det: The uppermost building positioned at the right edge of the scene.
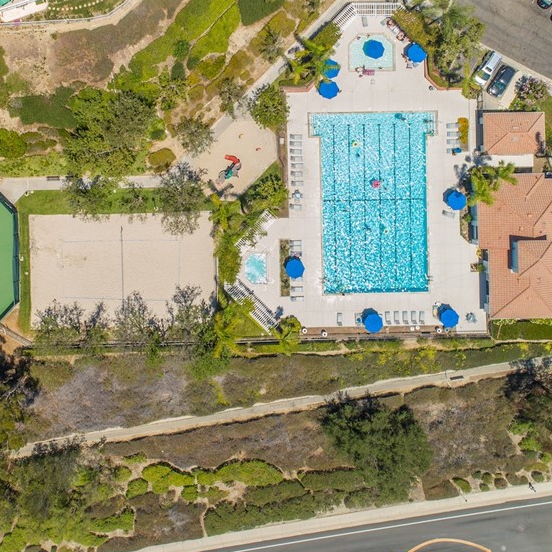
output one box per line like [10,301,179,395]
[477,111,545,156]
